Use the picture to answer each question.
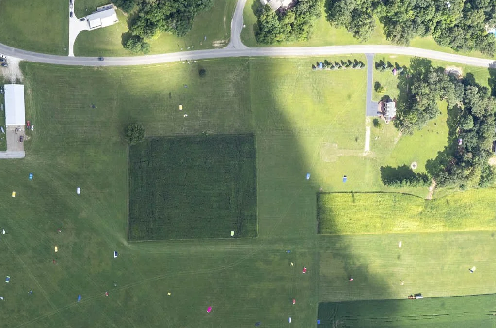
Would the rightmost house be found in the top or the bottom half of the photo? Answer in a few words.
top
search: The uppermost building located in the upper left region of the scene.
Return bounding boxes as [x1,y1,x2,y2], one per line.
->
[86,4,117,32]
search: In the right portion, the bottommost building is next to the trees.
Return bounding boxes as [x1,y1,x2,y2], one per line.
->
[371,99,395,121]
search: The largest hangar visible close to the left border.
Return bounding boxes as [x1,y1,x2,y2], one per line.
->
[4,84,25,126]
